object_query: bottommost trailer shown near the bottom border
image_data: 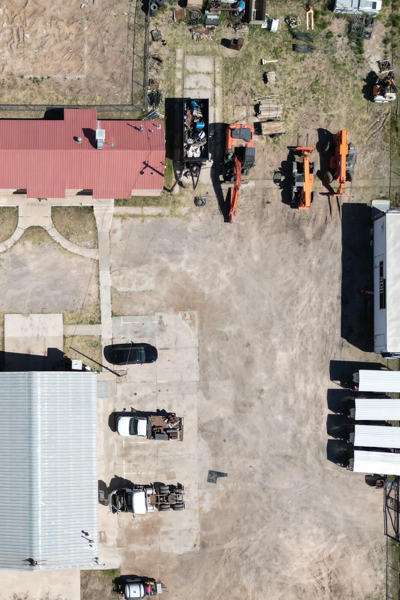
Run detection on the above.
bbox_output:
[118,580,166,600]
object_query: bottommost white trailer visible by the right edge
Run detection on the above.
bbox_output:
[334,449,400,476]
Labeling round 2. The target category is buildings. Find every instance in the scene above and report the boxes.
[0,108,165,198]
[0,360,102,570]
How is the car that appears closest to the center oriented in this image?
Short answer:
horizontally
